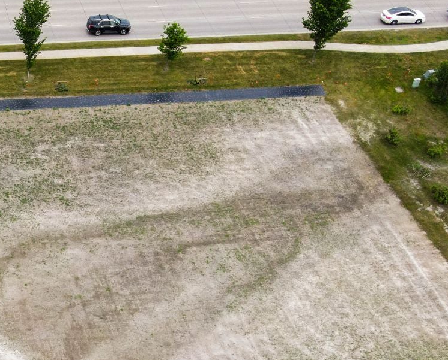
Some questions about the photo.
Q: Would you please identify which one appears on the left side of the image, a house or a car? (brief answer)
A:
car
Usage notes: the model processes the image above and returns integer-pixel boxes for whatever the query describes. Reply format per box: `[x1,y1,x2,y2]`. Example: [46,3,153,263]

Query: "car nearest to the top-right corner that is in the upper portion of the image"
[381,6,427,25]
